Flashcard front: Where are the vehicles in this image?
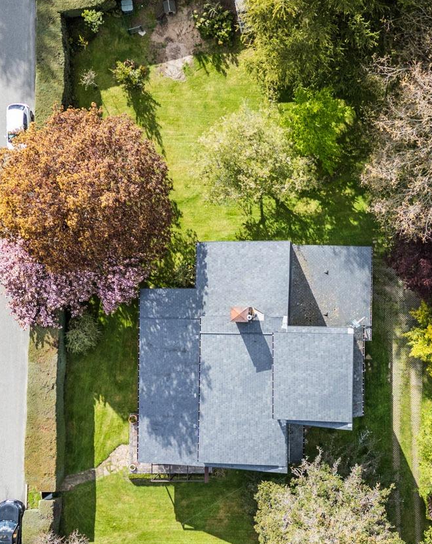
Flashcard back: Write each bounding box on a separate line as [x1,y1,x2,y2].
[0,498,27,544]
[3,98,35,151]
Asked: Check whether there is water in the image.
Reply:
No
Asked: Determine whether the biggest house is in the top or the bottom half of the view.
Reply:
bottom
